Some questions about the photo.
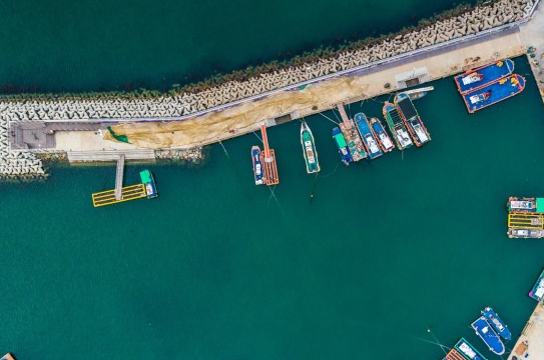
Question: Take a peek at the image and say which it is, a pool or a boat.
boat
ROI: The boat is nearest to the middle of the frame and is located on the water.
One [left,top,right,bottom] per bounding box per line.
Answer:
[252,145,265,187]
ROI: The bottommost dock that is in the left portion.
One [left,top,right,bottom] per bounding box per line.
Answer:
[91,184,148,208]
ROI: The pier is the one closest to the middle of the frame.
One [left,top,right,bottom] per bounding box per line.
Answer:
[262,148,280,186]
